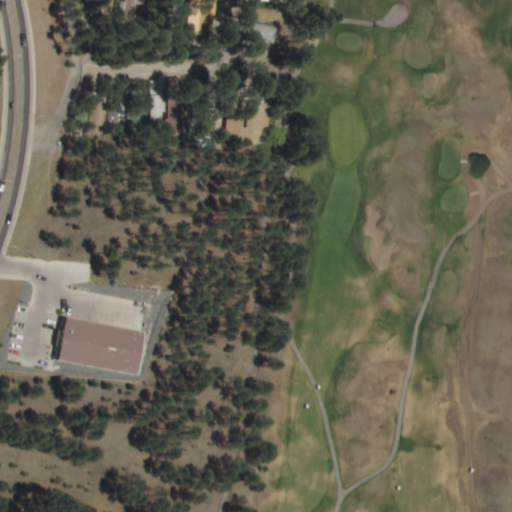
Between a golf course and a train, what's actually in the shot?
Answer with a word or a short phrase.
golf course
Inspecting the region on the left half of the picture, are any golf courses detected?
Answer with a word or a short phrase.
No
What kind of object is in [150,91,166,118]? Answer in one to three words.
house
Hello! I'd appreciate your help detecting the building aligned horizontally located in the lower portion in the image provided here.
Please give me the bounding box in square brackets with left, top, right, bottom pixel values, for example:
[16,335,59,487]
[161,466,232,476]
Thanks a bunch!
[54,317,146,376]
